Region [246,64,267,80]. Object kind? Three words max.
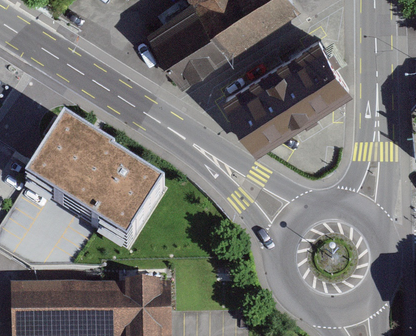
car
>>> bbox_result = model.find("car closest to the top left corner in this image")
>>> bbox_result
[64,10,86,27]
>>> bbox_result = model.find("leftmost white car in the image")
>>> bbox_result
[3,174,26,192]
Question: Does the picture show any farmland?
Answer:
No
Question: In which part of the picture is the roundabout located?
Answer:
bottom right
